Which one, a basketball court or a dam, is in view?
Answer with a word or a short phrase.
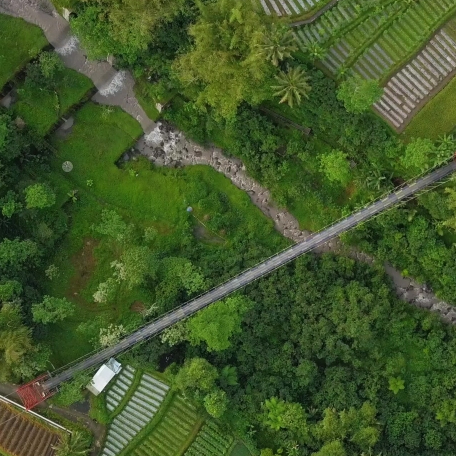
dam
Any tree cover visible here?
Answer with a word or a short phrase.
Yes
